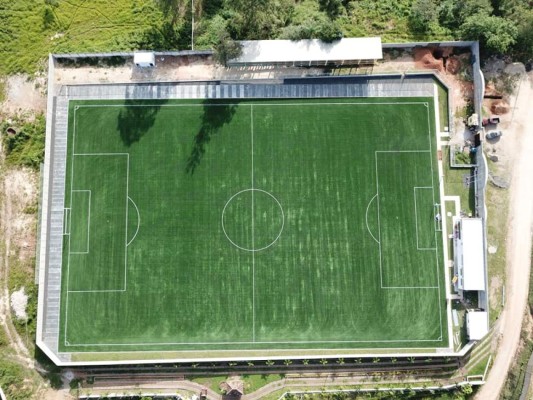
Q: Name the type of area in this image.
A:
sports ground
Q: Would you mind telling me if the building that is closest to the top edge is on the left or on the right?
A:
right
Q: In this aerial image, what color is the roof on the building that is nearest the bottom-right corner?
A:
white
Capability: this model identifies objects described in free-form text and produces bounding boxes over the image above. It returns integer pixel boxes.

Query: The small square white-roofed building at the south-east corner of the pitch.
[464,310,488,340]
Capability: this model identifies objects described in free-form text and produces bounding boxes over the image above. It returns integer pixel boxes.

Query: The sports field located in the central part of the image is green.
[57,96,449,353]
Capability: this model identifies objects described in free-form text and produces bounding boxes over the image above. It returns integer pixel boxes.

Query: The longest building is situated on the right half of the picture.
[454,217,484,291]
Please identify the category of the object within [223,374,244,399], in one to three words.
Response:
gazebo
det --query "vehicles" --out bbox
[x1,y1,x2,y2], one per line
[483,117,501,125]
[486,132,502,140]
[467,110,479,131]
[132,54,154,66]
